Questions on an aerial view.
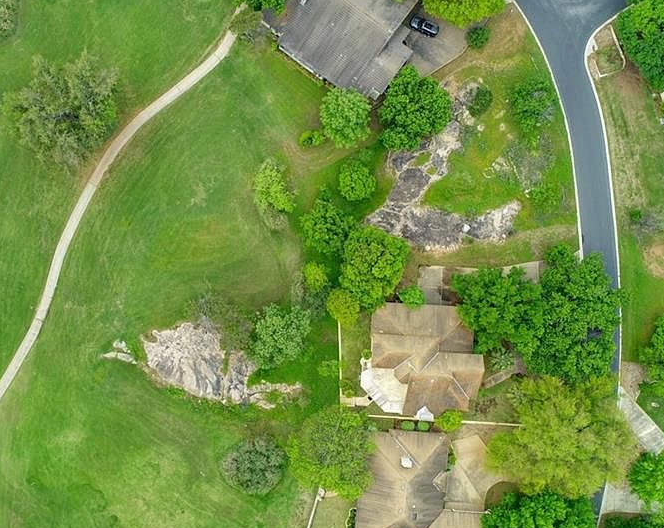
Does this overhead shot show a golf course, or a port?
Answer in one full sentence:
What you see here is a golf course.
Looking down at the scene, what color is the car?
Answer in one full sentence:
The color of the car is black.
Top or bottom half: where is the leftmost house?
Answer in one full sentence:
The leftmost house sits in the top half of the picture.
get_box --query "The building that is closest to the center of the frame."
[372,303,484,421]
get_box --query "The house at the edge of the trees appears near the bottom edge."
[357,430,483,528]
